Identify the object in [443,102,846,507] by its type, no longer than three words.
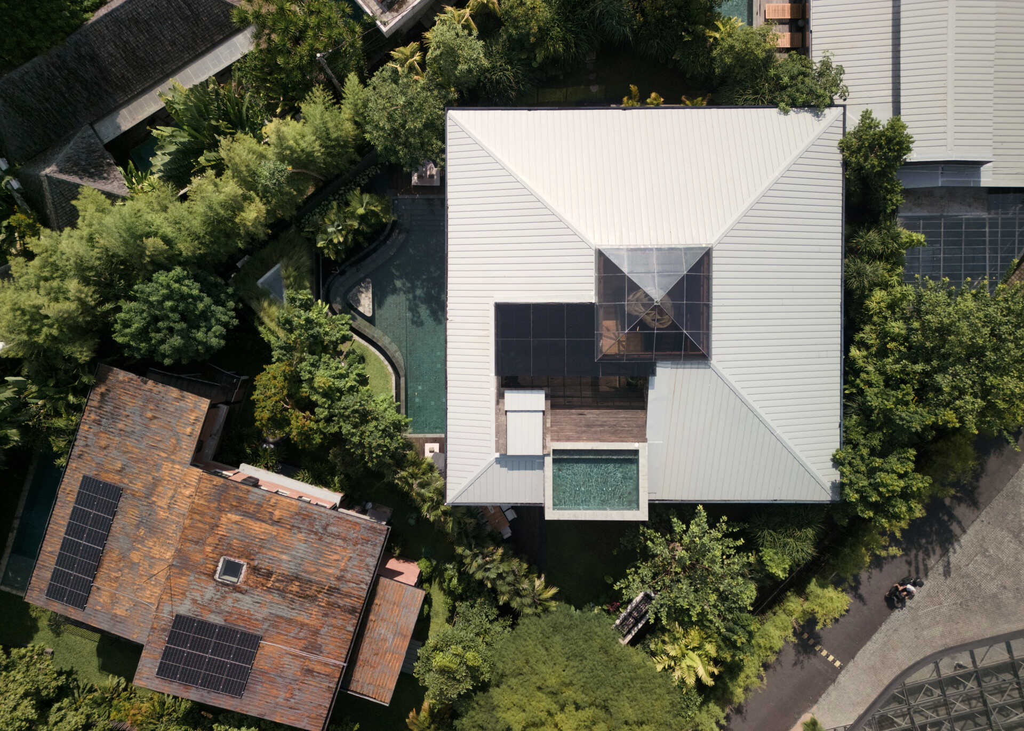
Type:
house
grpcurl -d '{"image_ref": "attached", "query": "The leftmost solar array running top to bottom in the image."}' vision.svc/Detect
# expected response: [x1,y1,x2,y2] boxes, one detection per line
[43,472,110,611]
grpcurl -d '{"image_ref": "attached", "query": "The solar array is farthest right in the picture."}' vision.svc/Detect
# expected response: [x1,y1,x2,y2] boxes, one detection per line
[155,615,259,698]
